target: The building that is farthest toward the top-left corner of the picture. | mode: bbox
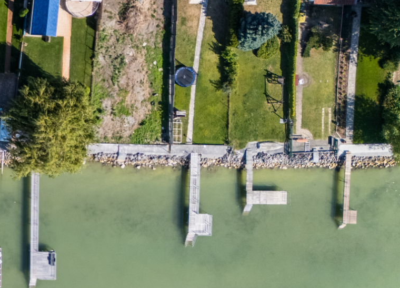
[29,0,60,36]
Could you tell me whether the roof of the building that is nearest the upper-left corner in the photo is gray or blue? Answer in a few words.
blue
